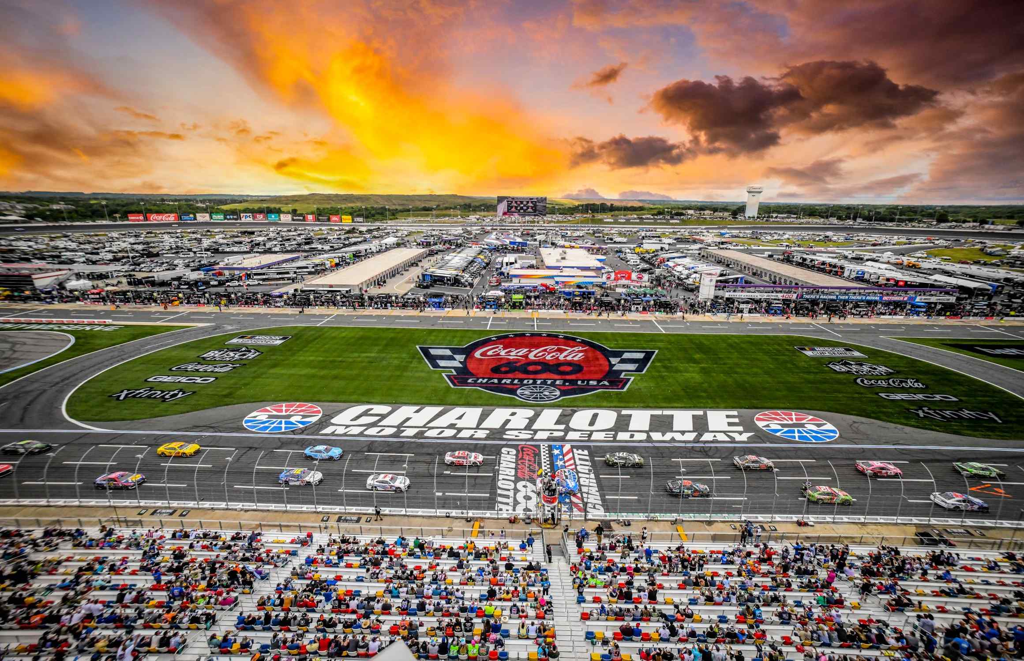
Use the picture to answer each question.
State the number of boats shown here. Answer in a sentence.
There are no boats in this view.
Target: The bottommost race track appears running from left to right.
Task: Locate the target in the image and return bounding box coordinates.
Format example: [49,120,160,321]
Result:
[0,432,1024,521]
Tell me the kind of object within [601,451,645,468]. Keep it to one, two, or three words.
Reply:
car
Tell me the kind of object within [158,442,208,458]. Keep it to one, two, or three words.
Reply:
car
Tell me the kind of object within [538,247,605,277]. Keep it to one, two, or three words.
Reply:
building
